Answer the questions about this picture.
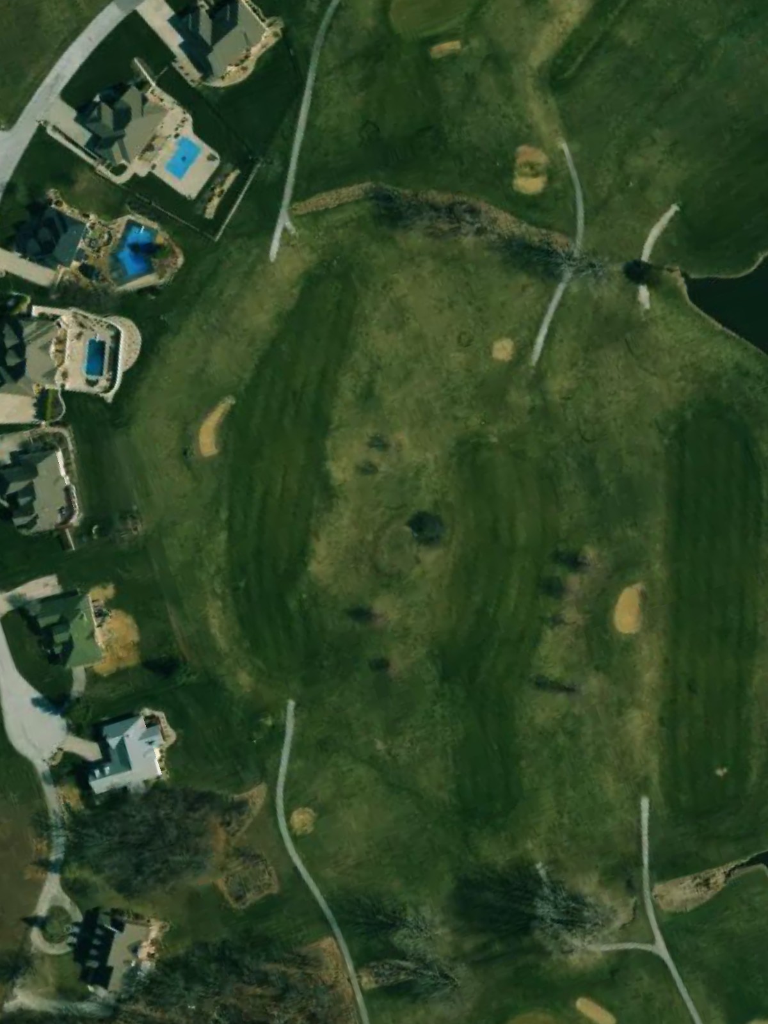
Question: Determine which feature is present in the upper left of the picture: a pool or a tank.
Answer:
pool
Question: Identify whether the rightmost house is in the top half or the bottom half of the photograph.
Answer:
top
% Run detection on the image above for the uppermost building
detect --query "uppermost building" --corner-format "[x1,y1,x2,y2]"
[169,0,268,78]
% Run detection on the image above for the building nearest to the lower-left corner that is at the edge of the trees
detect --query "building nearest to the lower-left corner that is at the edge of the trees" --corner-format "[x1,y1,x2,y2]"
[66,909,152,990]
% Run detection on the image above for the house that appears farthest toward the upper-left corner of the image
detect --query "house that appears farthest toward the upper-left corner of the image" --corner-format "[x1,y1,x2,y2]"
[76,86,168,166]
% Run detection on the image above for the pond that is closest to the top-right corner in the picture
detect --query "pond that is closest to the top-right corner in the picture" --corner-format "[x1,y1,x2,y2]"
[684,257,768,353]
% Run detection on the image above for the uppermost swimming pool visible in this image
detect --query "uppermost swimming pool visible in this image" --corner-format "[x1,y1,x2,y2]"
[124,113,220,200]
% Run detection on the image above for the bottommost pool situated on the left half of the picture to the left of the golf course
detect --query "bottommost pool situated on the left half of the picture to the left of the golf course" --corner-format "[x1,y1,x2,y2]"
[59,311,119,394]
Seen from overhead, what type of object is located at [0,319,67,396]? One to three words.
house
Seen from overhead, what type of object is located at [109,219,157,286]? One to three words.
swimming pool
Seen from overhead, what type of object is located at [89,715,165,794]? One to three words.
house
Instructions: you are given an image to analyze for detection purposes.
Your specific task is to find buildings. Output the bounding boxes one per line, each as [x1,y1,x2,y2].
[16,207,87,270]
[0,319,67,396]
[0,450,68,532]
[89,715,165,794]
[76,86,168,166]
[34,594,105,669]
[169,0,268,78]
[66,909,152,990]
